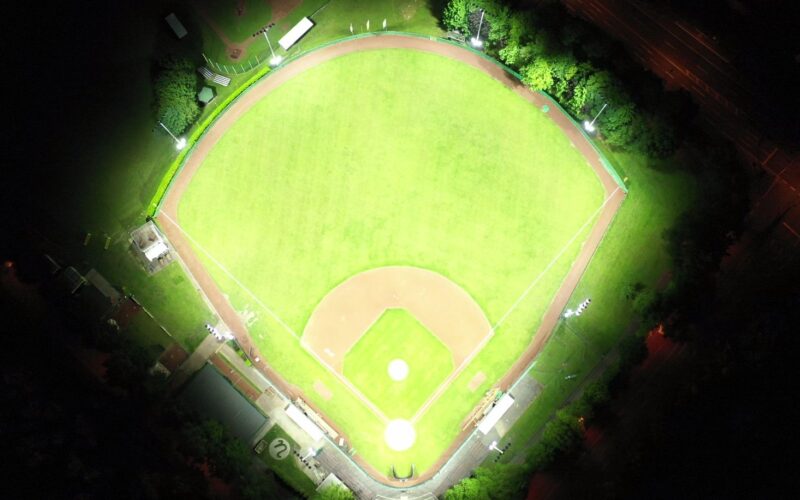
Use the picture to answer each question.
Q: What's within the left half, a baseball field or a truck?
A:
baseball field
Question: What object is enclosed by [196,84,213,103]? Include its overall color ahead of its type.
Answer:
green gazebo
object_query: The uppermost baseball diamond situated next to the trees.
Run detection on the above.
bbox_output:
[195,0,304,62]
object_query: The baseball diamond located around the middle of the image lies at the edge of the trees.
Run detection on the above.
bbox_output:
[155,33,627,487]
